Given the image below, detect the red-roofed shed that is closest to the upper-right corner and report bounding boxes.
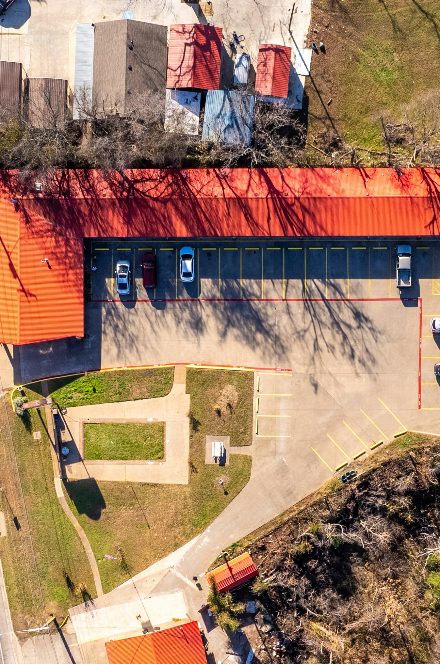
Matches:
[255,44,291,102]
